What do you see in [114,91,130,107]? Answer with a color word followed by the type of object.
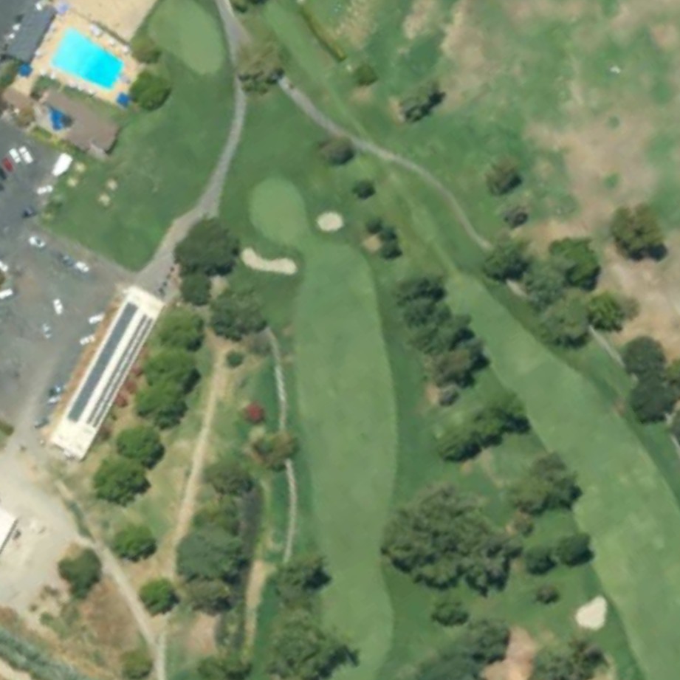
blue umbrella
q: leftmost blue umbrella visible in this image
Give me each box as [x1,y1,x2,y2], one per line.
[16,61,32,77]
